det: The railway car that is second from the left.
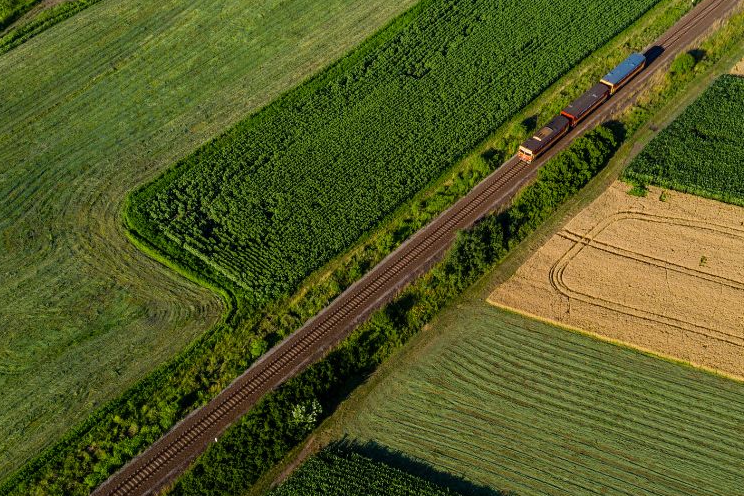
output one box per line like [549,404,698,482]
[562,81,610,127]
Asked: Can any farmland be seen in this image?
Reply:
Yes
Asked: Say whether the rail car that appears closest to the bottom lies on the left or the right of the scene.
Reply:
right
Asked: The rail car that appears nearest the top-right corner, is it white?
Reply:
No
